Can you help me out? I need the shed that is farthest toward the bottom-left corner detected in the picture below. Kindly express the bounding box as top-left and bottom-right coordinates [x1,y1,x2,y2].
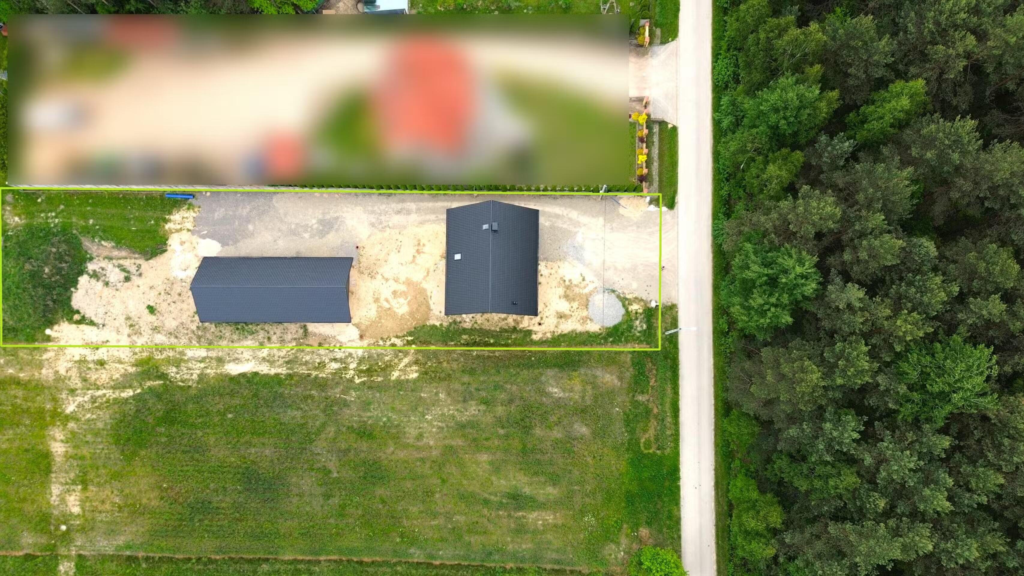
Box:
[189,256,356,324]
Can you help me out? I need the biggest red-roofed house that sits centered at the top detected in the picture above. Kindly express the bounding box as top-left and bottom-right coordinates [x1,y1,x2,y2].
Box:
[378,34,475,156]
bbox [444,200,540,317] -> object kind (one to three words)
house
